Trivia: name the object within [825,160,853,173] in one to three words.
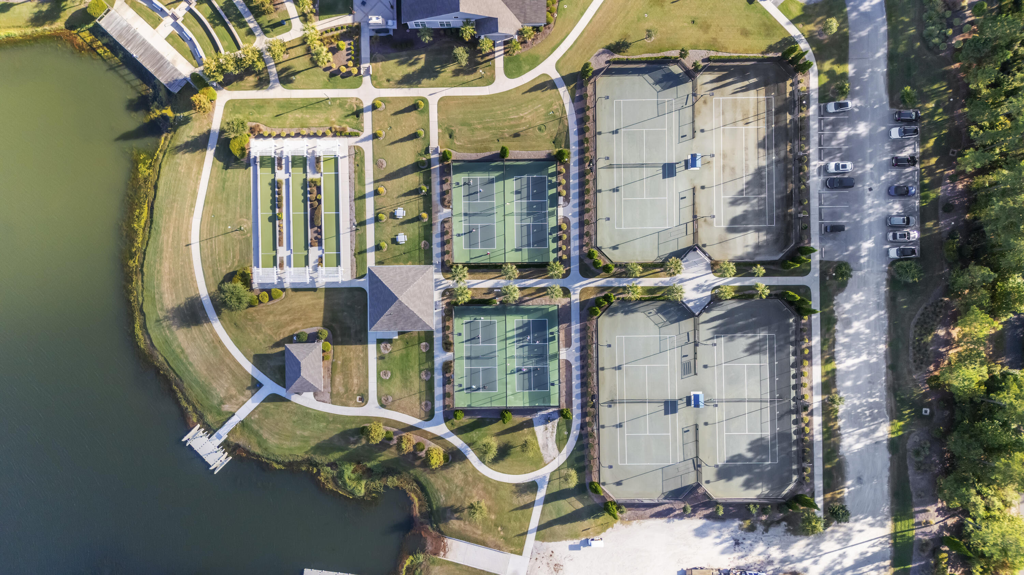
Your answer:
vehicle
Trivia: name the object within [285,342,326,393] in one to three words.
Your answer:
building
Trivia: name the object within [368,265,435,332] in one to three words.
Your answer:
building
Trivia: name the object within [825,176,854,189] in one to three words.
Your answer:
vehicle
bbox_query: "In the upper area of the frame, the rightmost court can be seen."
[693,62,794,260]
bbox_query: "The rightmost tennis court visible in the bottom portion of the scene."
[697,300,797,498]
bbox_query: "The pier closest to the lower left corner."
[182,426,233,474]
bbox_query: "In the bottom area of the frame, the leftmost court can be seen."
[454,306,507,408]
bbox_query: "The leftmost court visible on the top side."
[452,160,505,263]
